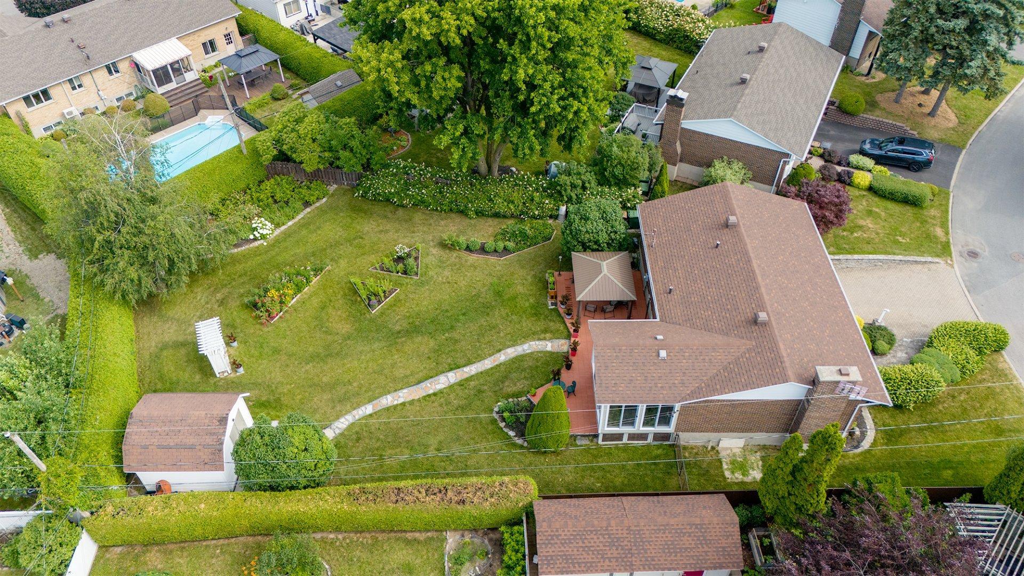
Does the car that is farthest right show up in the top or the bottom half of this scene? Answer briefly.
top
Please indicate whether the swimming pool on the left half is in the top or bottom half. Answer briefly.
top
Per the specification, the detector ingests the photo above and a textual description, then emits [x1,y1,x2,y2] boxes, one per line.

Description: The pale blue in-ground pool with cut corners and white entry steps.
[110,115,246,178]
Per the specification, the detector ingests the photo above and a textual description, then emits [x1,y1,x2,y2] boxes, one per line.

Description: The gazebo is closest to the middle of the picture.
[571,250,637,328]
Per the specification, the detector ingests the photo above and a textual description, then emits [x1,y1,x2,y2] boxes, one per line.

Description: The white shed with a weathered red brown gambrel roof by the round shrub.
[121,395,259,491]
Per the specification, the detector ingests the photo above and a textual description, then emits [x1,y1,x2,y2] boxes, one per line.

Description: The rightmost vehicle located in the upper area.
[860,132,934,168]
